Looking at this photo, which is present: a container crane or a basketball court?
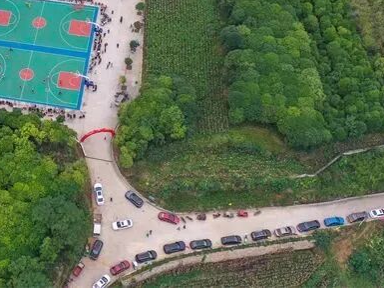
basketball court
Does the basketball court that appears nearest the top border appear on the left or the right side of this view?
left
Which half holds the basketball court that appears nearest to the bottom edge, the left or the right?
left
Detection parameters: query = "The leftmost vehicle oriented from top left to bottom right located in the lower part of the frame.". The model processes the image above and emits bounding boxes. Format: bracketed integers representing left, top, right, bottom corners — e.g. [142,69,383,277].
[124,189,144,207]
